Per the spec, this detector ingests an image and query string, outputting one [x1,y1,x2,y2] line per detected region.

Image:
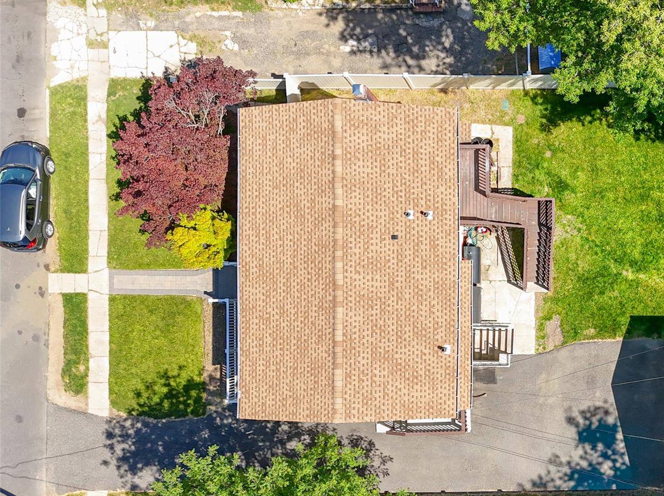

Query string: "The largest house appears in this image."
[234,84,476,424]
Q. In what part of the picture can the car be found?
left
